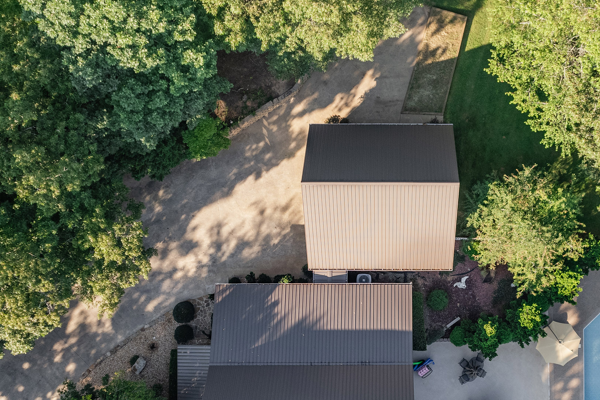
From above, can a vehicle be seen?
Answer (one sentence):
No, there isn't any vehicle down there.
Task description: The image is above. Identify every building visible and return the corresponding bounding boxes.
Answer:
[178,280,415,400]
[301,122,460,272]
